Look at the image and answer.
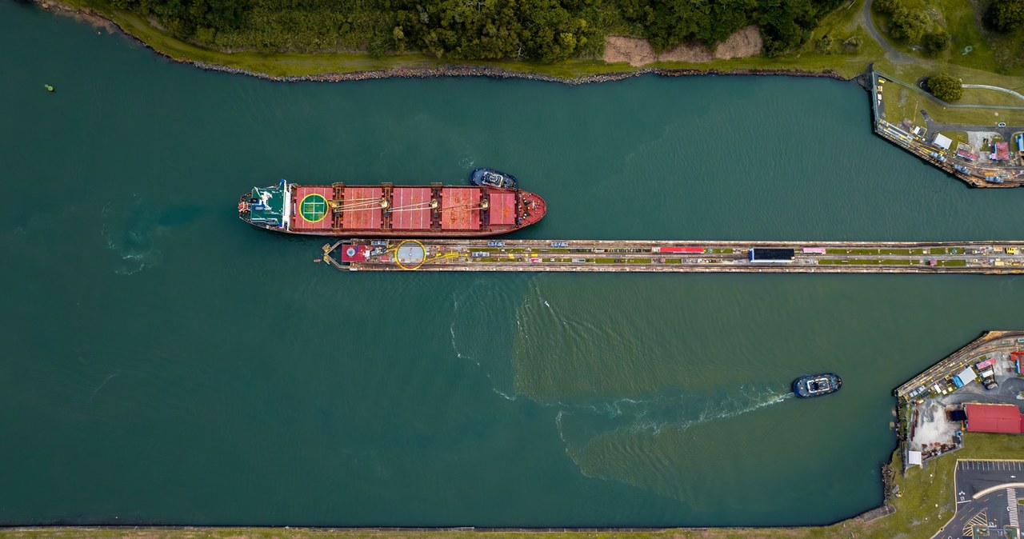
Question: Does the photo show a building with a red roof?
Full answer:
Yes, there's a building with a red roof down there.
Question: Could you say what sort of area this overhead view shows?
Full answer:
This looks like a port.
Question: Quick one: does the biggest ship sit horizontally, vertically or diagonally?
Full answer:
In this picture, the biggest ship is oriented horizontally.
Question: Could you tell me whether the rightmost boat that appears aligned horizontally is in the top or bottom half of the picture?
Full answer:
The rightmost boat that appears aligned horizontally is in the bottom half of the image.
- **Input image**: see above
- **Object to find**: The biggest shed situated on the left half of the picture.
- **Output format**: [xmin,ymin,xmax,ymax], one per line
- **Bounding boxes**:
[342,244,367,262]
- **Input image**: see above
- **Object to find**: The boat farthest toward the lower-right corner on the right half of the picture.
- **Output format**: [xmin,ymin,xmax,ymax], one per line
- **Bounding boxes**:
[792,374,844,398]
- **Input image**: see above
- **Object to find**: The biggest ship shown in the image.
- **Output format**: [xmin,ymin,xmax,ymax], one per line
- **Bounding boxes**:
[236,180,547,235]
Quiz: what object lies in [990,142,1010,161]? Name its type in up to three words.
house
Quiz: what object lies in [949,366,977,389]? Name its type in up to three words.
building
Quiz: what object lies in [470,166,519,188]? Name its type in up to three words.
boat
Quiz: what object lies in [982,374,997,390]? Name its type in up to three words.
vehicle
